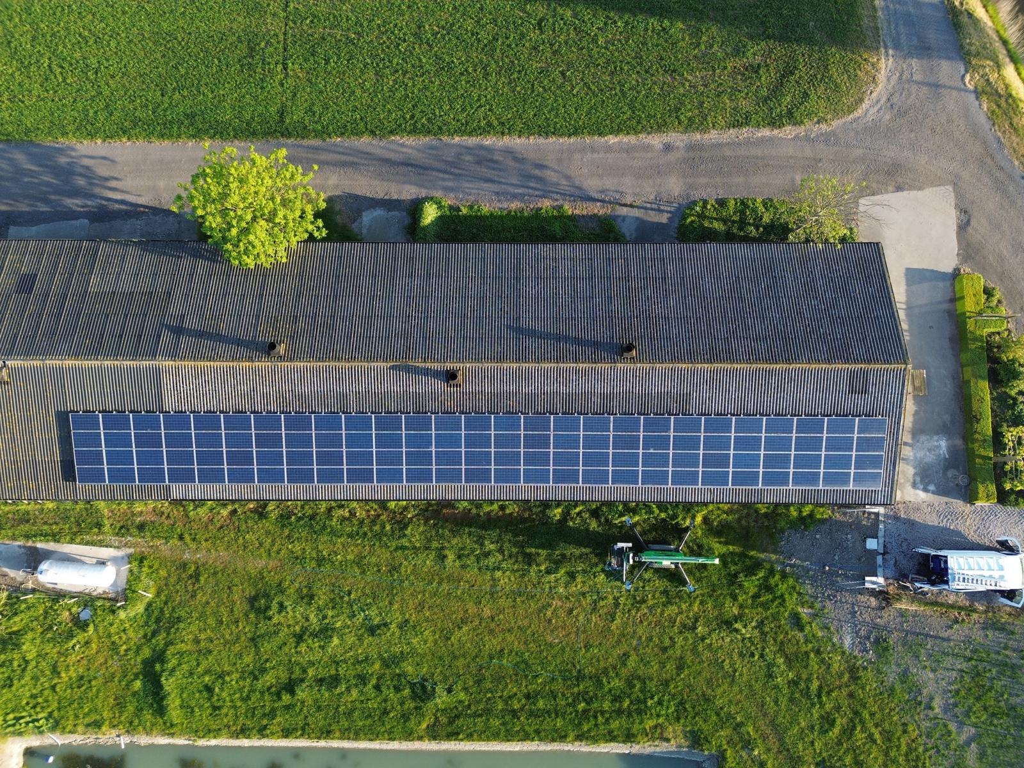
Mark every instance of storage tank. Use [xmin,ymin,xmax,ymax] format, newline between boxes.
[24,560,117,589]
